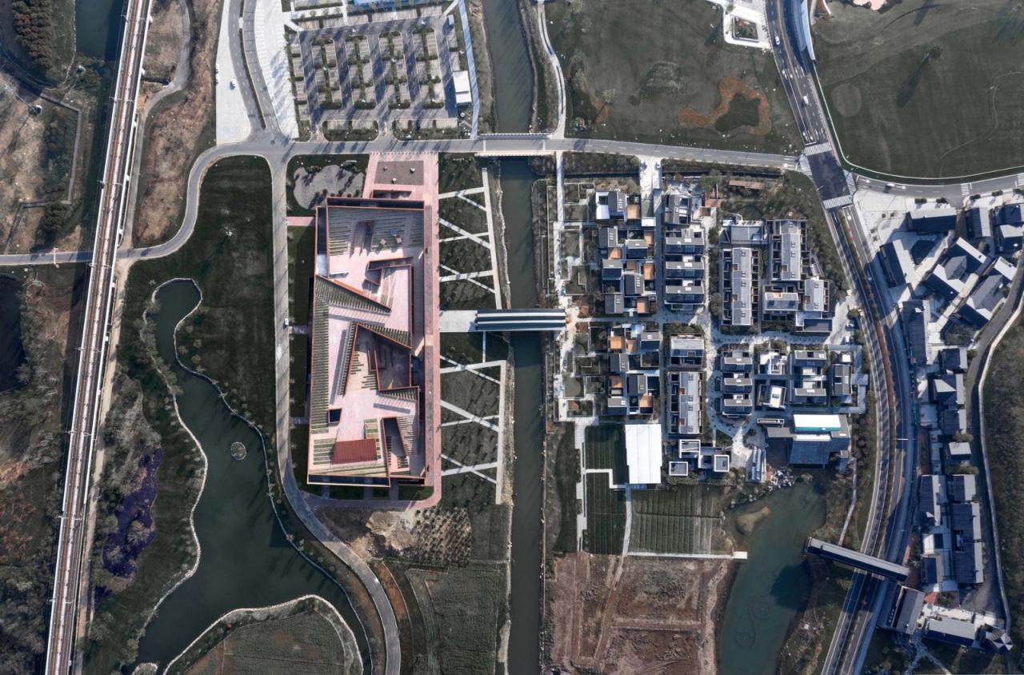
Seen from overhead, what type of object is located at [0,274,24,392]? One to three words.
pond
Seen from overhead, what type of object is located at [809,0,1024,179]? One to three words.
golf course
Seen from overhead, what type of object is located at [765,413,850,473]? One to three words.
building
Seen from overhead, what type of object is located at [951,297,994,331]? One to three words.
house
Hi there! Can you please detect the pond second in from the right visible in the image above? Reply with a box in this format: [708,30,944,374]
[121,279,371,675]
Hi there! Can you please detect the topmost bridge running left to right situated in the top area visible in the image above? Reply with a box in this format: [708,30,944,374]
[477,132,553,157]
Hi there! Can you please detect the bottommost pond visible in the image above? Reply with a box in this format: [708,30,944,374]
[720,480,826,675]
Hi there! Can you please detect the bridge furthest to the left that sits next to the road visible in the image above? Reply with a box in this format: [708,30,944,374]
[43,0,155,675]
